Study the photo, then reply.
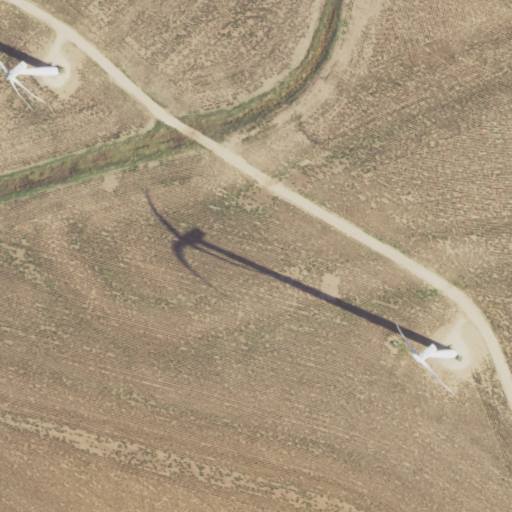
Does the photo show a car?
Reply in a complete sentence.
No, there is no car in the image.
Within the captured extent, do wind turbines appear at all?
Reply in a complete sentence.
Yes, a wind turbine can be made out from above.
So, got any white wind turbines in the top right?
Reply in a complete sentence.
No, there is no white wind turbine in the top right.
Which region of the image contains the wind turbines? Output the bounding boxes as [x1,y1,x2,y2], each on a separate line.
[0,60,59,110]
[392,316,458,399]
